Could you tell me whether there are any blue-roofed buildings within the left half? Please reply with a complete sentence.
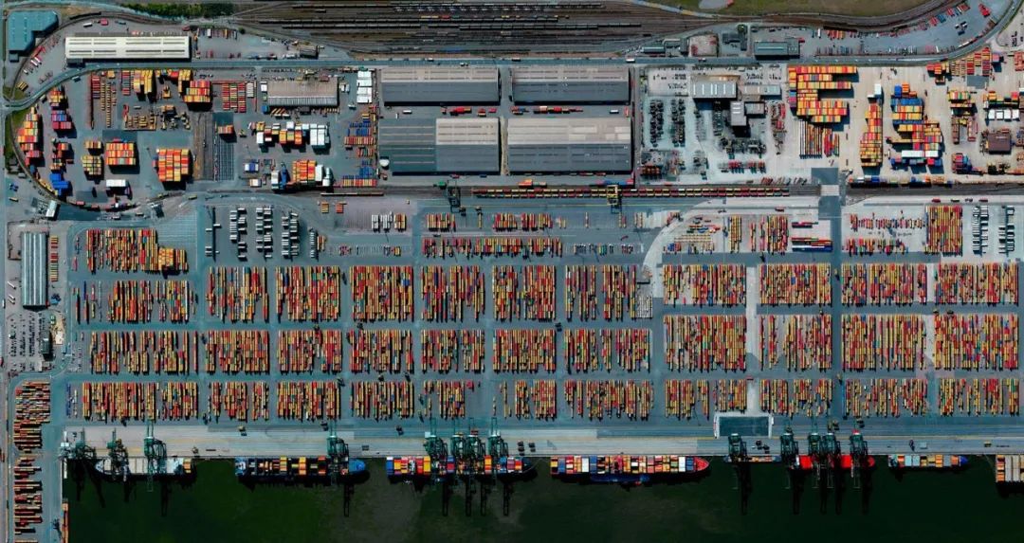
Yes, the scene does show a blue-roofed building within the left half.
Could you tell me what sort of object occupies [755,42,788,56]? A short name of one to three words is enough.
shed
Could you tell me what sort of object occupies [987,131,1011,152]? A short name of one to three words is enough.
shed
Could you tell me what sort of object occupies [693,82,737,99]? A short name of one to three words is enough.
building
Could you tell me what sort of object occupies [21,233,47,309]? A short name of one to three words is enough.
building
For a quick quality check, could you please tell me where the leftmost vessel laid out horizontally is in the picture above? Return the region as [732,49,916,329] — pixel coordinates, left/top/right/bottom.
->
[95,459,194,474]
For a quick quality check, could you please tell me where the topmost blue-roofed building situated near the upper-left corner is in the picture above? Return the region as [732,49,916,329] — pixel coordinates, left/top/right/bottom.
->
[9,11,59,50]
